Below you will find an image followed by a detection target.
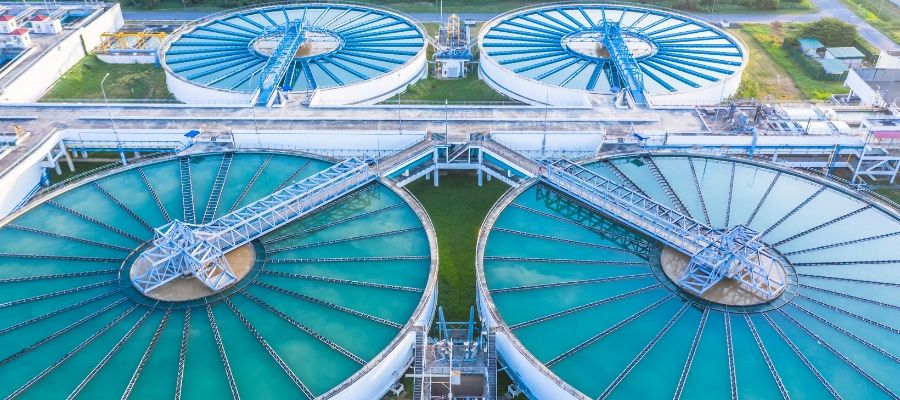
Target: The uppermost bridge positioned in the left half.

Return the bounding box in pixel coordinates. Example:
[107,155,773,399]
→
[238,14,309,99]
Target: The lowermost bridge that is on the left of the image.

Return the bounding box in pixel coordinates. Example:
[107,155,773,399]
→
[193,155,387,258]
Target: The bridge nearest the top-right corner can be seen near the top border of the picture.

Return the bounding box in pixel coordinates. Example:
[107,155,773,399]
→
[599,16,667,102]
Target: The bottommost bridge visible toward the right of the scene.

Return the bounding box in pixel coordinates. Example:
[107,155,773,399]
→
[530,156,724,260]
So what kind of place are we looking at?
industrial area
